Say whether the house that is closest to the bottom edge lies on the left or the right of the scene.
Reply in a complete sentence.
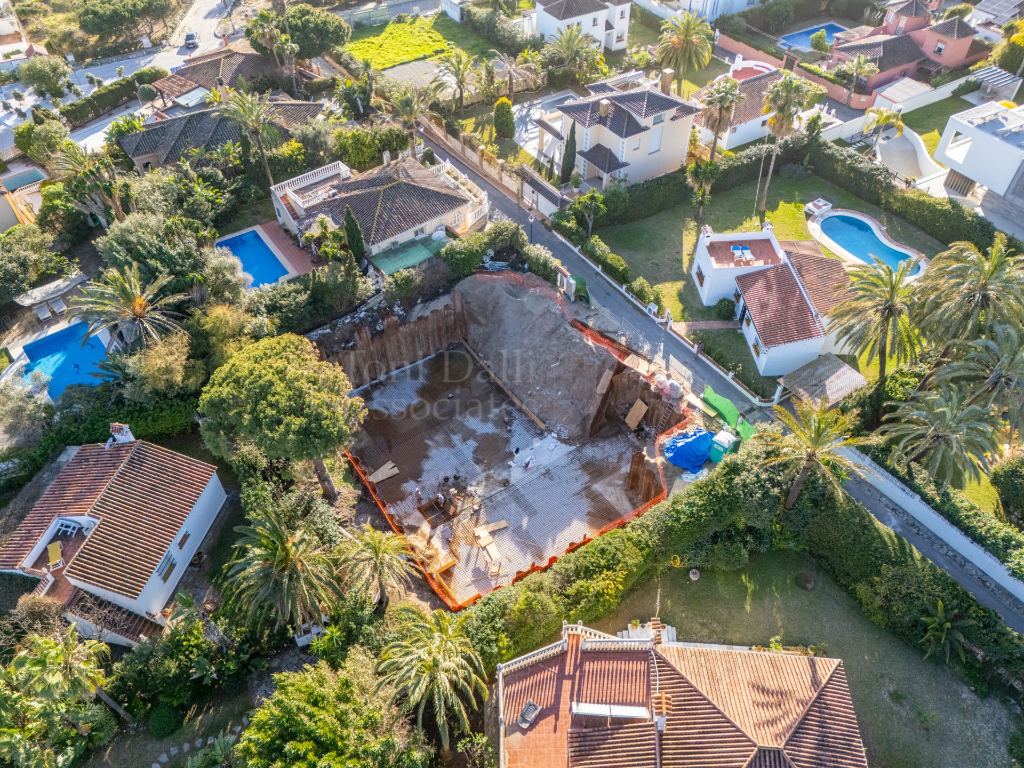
The house that is closest to the bottom edge is on the right side of the image.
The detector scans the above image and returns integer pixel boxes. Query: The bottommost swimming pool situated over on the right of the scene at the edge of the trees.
[807,207,939,287]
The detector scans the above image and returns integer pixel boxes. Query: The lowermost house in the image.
[493,581,871,768]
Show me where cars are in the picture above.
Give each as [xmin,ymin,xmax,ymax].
[183,25,201,46]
